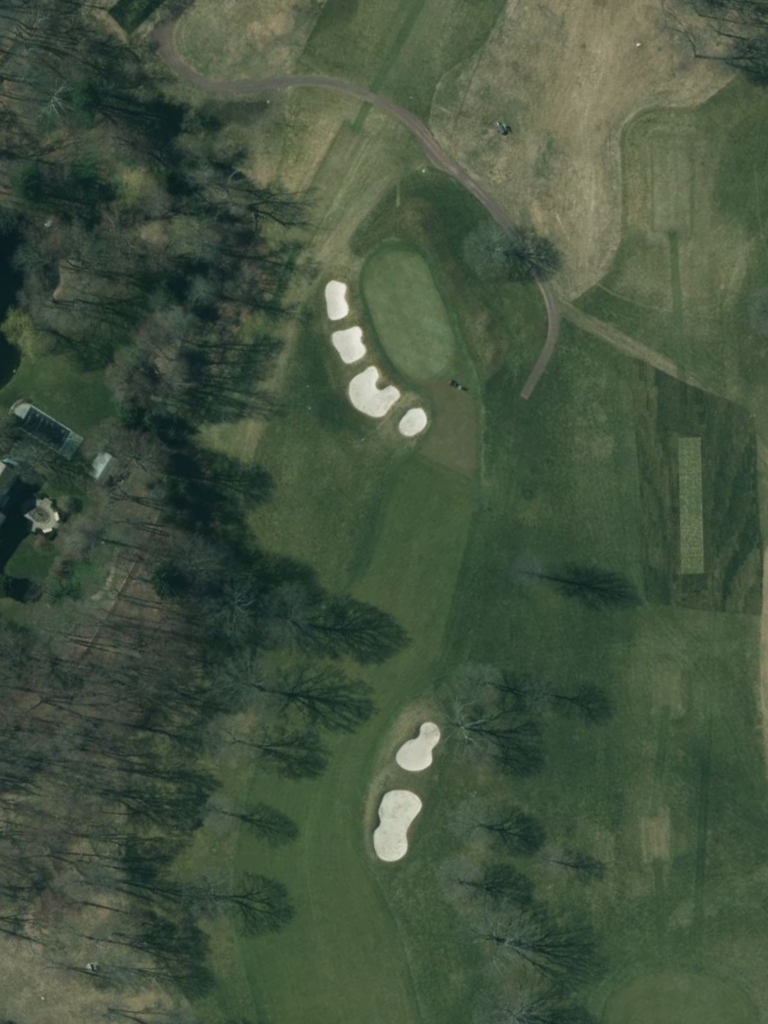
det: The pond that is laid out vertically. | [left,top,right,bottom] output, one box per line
[0,225,21,389]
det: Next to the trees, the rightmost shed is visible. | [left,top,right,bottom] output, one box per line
[87,452,113,480]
